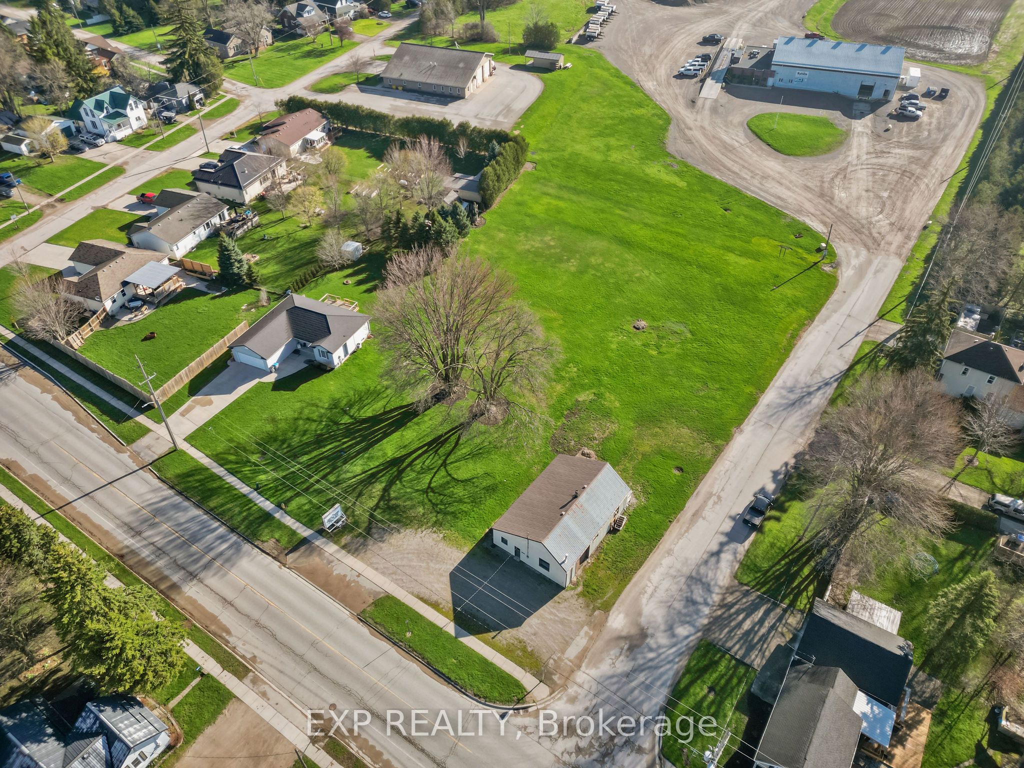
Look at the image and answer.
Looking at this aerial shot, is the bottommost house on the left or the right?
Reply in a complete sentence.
The bottommost house appears in the left half of the scene.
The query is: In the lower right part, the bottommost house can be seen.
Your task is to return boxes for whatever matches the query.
[755,599,919,768]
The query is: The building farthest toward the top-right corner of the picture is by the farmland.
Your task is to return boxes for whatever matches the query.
[771,33,902,100]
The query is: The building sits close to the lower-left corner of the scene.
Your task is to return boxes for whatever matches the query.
[0,697,175,768]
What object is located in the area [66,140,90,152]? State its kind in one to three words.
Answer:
vehicle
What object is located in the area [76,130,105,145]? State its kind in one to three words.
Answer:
vehicle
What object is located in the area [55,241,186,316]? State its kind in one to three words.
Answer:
house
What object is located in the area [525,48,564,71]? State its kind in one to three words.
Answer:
shed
